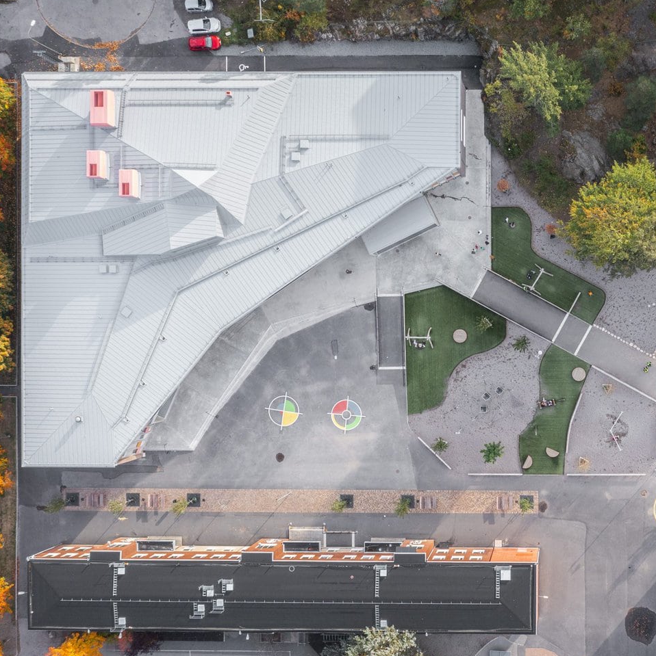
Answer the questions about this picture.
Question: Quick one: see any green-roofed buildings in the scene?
No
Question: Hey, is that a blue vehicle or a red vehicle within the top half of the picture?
red vehicle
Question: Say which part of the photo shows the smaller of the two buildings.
bottom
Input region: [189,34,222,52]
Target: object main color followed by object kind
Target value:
red car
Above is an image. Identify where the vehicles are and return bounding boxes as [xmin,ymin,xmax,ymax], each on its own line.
[188,17,221,35]
[189,34,222,52]
[184,0,215,13]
